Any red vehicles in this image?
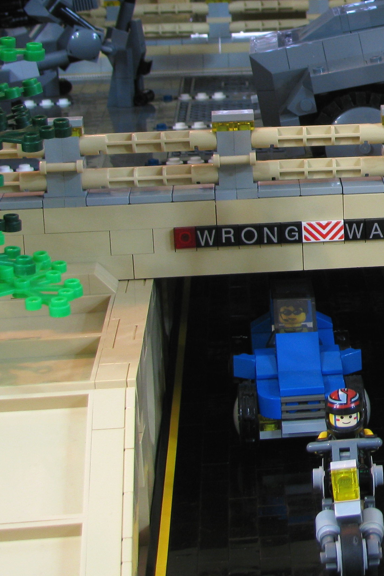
No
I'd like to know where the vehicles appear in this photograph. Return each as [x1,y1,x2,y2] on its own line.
[307,433,384,570]
[248,0,384,128]
[227,281,374,436]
